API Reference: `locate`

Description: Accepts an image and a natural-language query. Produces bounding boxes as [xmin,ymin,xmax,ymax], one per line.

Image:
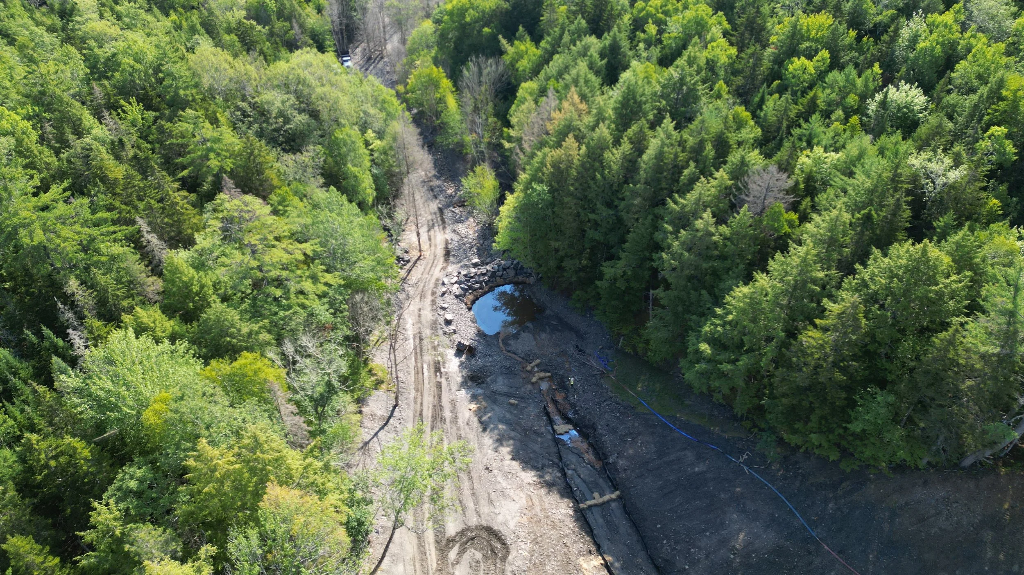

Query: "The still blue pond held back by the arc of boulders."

[470,281,549,340]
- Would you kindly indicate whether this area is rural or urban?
rural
